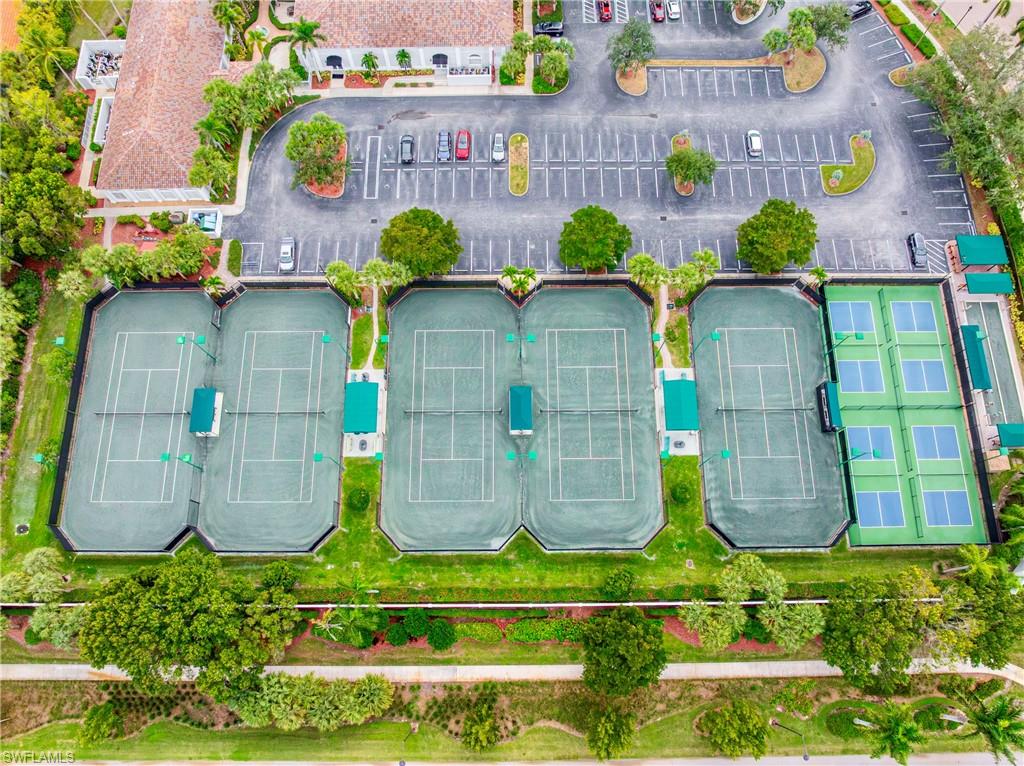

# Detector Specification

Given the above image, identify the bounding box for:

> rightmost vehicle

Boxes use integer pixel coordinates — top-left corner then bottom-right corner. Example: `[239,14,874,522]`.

[906,234,929,268]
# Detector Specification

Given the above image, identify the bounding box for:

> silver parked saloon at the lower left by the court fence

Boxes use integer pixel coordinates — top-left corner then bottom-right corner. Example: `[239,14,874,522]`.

[279,238,296,270]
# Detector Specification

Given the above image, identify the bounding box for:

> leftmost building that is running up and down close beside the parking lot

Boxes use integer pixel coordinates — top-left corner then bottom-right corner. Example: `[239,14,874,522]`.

[96,0,224,203]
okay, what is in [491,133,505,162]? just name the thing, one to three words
car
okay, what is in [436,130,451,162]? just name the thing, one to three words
car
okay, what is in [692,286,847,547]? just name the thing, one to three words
tennis court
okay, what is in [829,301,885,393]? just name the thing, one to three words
sports court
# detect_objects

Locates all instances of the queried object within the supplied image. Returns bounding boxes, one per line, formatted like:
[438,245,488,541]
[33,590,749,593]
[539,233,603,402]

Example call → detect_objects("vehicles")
[598,0,612,21]
[279,238,296,270]
[906,234,929,268]
[456,132,470,159]
[400,136,414,164]
[533,20,564,37]
[844,0,874,19]
[436,130,451,162]
[650,0,665,21]
[491,133,505,162]
[665,0,680,22]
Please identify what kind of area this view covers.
sports ground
